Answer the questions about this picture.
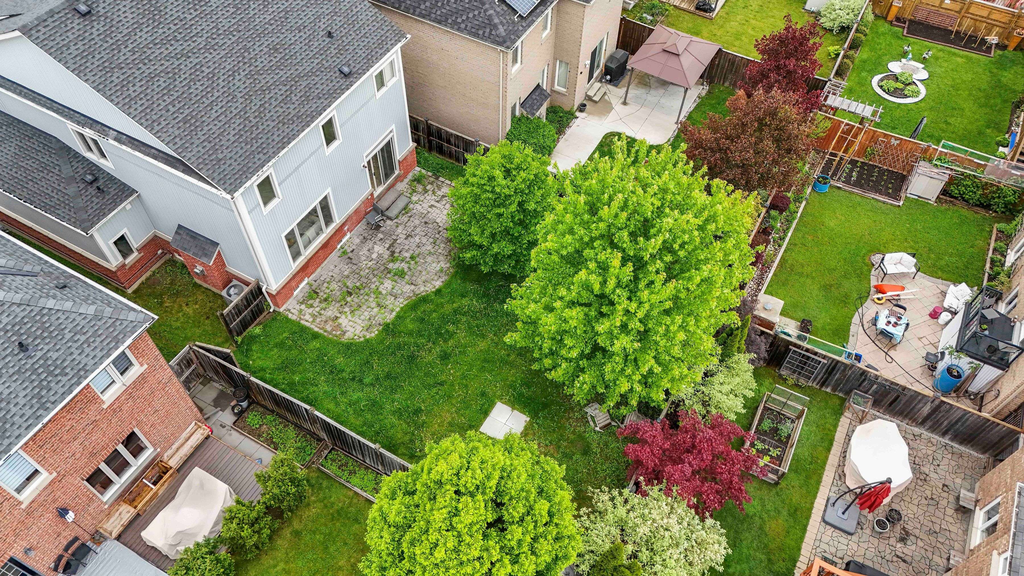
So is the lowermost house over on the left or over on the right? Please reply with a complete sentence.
You can find the lowermost house on the right side of the picture.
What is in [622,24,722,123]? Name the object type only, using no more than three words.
gazebo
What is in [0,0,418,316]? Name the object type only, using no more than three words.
house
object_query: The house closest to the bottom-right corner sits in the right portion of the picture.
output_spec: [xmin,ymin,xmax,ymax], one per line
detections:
[951,438,1024,576]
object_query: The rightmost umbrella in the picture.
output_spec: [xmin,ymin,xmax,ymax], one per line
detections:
[909,113,929,145]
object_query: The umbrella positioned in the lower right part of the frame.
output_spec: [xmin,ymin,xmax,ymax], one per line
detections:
[823,477,892,535]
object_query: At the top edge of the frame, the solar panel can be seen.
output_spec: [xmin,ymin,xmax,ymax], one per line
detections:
[510,0,547,20]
